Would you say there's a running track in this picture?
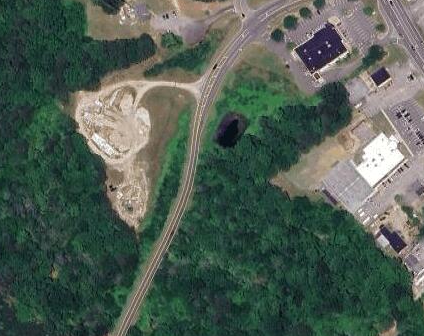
No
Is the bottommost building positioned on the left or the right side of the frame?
right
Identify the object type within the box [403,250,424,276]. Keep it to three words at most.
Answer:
building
